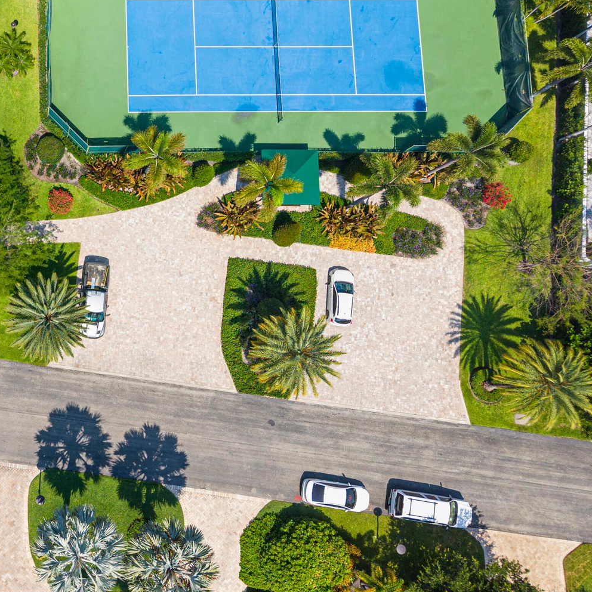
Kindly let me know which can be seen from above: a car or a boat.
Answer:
car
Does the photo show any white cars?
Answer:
Yes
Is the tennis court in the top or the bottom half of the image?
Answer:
top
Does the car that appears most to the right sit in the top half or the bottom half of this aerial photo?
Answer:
bottom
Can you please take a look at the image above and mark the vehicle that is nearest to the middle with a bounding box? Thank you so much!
[326,267,357,326]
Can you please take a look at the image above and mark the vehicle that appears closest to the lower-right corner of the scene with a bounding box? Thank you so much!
[389,489,469,527]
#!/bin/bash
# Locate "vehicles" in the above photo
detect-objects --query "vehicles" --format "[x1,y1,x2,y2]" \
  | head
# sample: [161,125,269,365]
[326,267,357,326]
[389,489,469,527]
[79,259,109,337]
[301,479,367,514]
